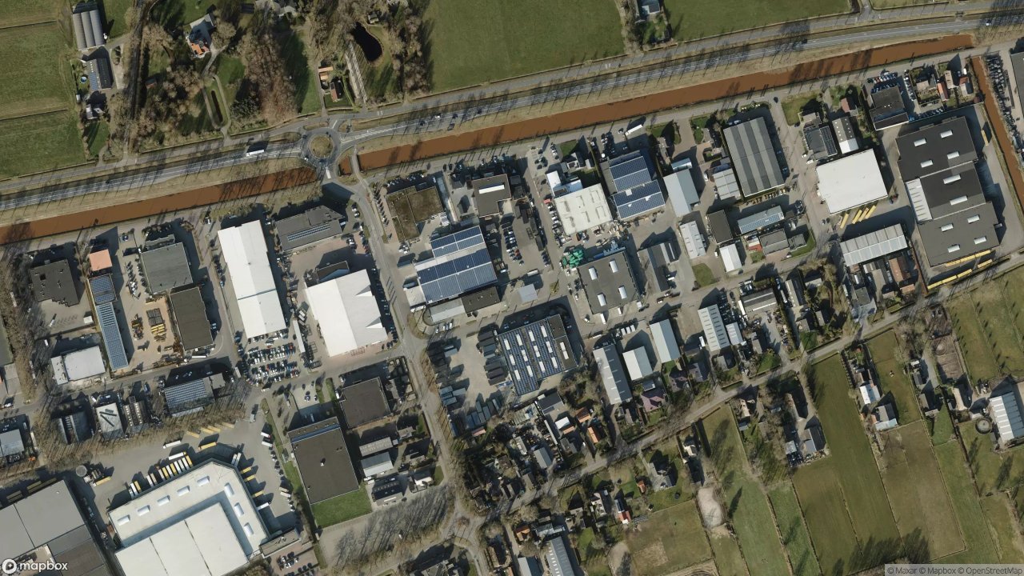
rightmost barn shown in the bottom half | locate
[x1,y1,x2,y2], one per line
[989,392,1024,437]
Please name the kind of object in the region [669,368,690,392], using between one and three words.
house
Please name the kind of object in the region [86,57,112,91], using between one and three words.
barn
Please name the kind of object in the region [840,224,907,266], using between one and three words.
shed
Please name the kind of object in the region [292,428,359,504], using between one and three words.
building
